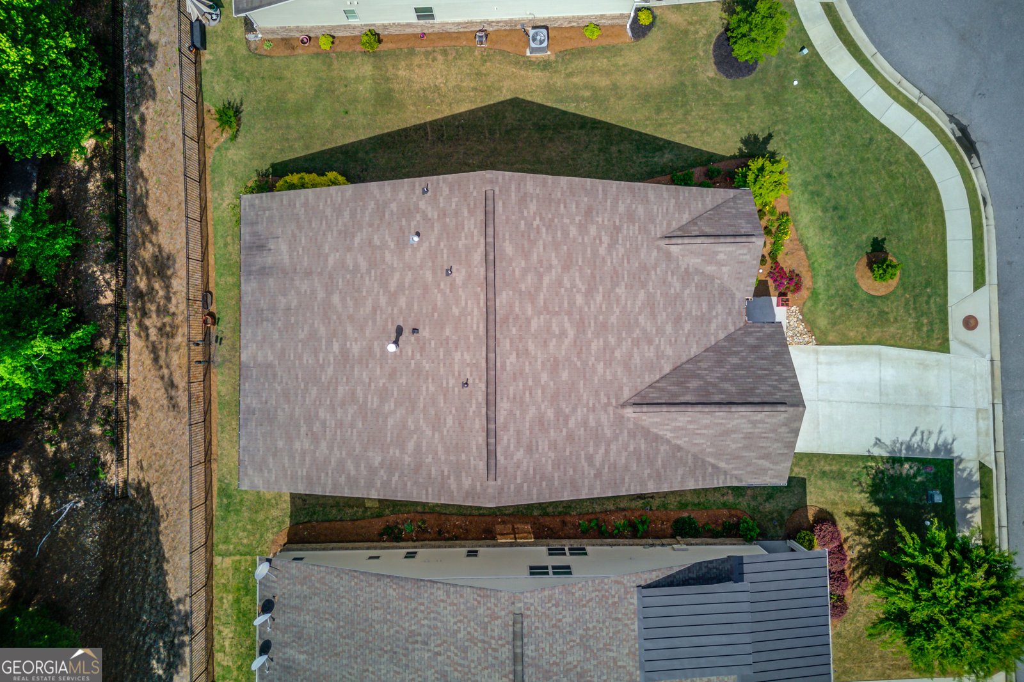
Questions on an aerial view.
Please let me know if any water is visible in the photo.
No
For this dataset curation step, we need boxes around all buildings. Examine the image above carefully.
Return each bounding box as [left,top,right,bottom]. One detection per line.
[227,0,658,40]
[238,171,807,511]
[253,539,831,682]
